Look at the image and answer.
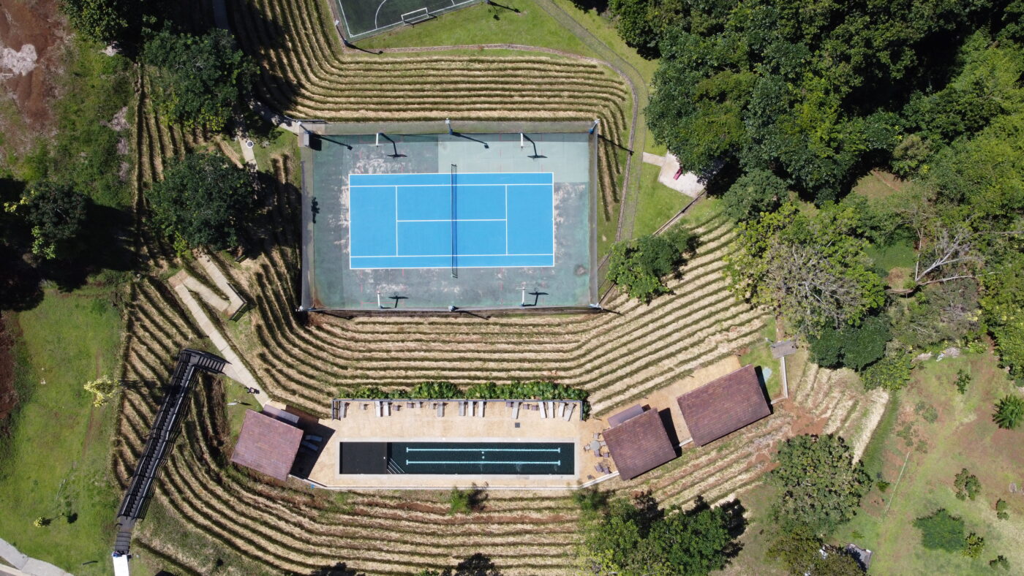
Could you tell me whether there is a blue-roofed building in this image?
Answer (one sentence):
No, there's no blue-roofed building here.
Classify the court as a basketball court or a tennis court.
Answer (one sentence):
The court appears to be a tennis court.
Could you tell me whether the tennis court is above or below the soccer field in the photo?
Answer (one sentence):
Within the scene, the tennis court can be found below the soccer field.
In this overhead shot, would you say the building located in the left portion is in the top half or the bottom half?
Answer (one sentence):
You can find the building located in the left portion in the bottom half.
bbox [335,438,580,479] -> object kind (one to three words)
swimming pool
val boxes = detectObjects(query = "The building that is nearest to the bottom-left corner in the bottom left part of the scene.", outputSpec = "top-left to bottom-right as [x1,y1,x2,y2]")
[231,408,308,481]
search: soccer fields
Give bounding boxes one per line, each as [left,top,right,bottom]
[335,0,485,41]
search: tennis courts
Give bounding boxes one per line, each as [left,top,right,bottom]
[312,132,591,309]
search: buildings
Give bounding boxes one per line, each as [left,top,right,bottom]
[231,408,308,481]
[676,365,771,447]
[602,407,677,481]
[842,539,872,573]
